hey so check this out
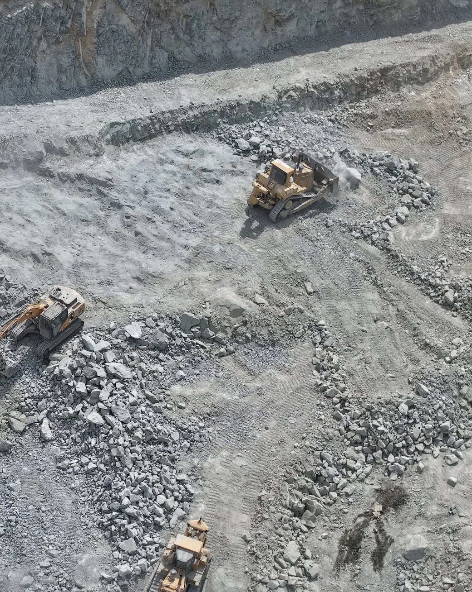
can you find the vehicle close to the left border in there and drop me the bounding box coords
[0,281,89,376]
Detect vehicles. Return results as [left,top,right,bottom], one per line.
[150,520,214,592]
[247,150,341,224]
[0,281,89,376]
